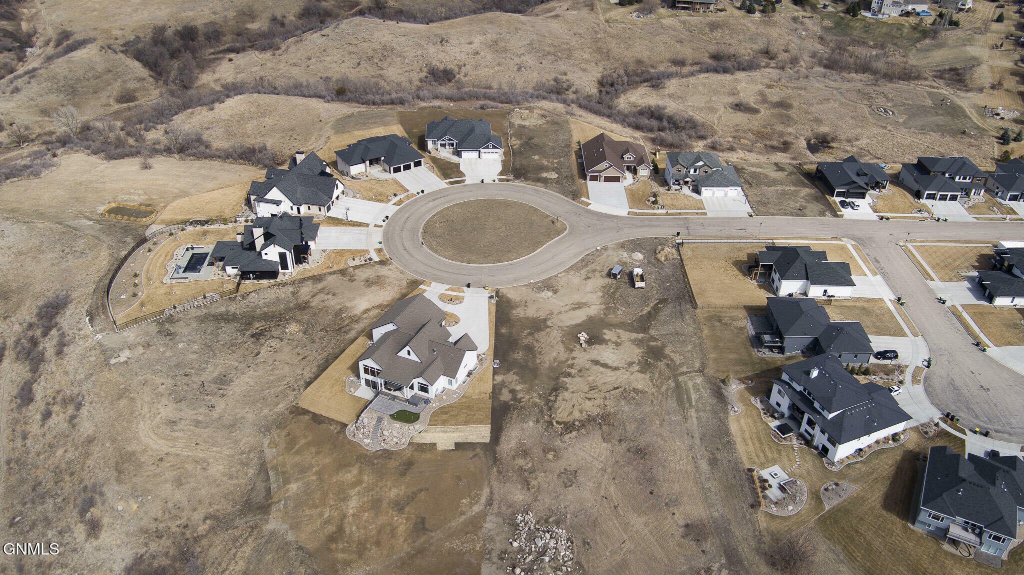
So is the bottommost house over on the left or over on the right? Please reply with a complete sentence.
The bottommost house appears in the right half of the scene.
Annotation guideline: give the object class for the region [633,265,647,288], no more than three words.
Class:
vehicle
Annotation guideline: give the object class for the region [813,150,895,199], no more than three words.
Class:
house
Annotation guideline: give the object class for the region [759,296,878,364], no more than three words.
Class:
house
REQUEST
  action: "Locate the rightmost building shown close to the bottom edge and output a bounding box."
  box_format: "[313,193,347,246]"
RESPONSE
[913,439,1024,562]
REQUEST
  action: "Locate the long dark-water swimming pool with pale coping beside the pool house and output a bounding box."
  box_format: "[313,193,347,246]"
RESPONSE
[181,251,209,273]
